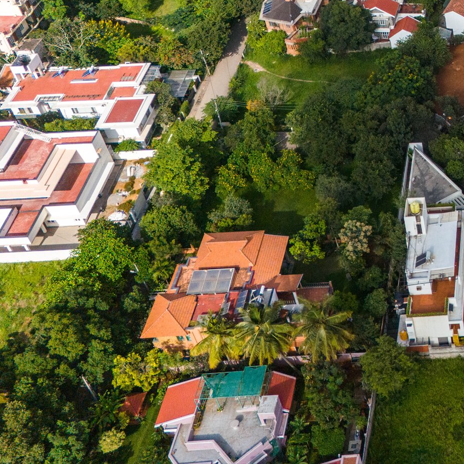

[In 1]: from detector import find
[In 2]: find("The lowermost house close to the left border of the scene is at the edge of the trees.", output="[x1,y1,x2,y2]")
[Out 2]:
[0,122,118,250]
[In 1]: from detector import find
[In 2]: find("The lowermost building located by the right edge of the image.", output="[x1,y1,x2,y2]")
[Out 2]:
[391,199,464,361]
